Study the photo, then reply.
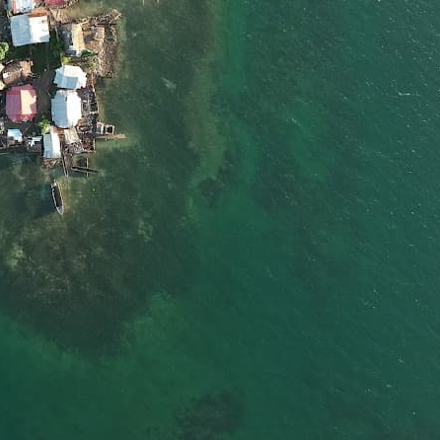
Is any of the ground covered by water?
Yes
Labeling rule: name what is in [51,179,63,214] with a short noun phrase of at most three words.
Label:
boat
